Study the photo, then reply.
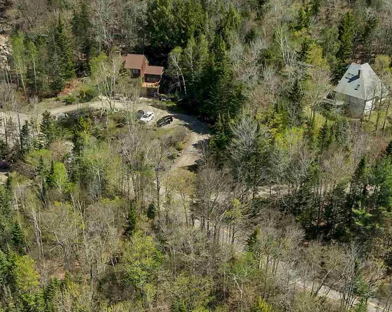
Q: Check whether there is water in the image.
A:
No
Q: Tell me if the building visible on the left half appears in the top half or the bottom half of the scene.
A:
top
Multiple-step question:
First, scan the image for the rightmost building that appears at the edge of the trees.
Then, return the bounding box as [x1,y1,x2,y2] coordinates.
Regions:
[328,61,390,115]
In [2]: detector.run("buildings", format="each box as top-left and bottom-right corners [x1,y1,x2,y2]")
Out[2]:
[124,57,163,88]
[328,61,390,115]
